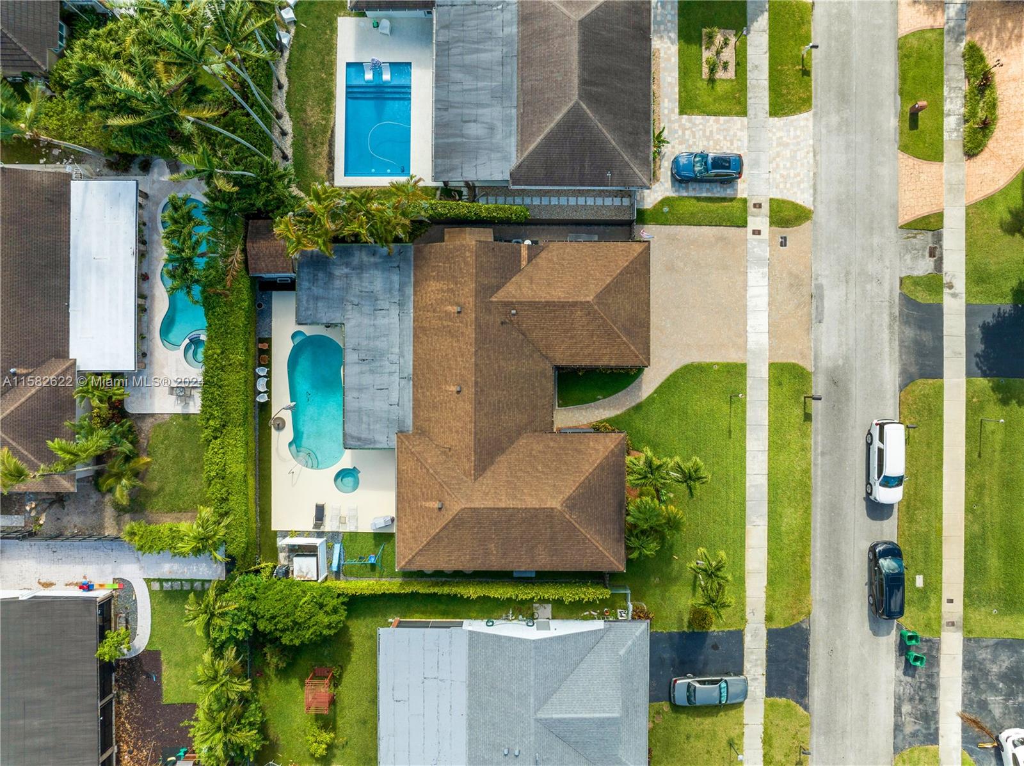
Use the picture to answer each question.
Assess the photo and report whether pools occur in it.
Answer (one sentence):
Yes, the image includes a pool.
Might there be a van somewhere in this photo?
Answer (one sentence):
Yes, a van can be made out from above.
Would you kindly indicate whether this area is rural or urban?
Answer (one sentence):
From above, the setting appears urban.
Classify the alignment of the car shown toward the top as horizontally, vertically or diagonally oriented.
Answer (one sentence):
Seen from above, the car shown toward the top lies horizontally.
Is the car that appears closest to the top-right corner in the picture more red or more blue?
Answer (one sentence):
The car that appears closest to the top-right corner looks blue in the image.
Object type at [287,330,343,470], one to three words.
swimming pool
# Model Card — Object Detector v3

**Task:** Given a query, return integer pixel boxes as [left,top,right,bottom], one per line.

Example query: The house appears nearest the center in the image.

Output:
[295,228,652,578]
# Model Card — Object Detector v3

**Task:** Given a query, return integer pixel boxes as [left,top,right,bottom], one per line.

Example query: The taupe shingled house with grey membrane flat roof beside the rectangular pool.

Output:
[348,0,653,200]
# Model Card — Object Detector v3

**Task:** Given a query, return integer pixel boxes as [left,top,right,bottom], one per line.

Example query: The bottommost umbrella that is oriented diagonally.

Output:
[270,402,297,429]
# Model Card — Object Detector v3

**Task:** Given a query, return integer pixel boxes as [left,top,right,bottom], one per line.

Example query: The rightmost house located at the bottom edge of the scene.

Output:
[376,618,651,766]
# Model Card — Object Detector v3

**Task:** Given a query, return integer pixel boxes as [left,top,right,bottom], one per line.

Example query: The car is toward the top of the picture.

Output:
[671,144,748,183]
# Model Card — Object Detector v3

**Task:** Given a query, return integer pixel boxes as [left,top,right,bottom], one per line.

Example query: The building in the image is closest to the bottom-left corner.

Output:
[0,577,115,766]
